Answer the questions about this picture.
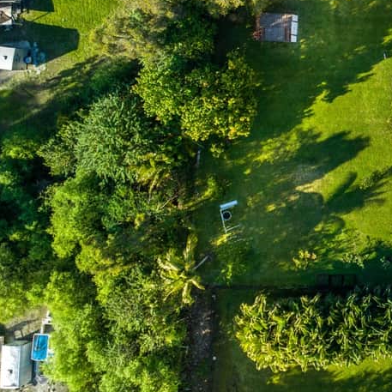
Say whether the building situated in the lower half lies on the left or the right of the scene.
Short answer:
left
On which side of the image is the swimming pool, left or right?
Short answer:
left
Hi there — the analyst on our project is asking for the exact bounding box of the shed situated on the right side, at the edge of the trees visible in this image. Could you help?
[259,14,299,42]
